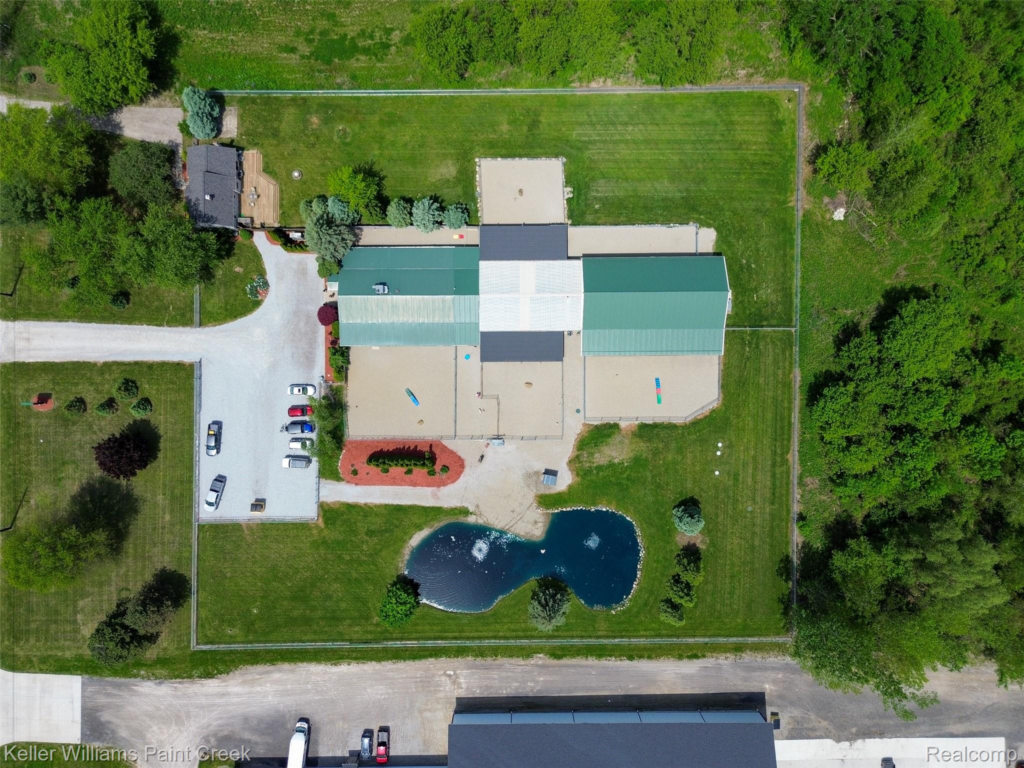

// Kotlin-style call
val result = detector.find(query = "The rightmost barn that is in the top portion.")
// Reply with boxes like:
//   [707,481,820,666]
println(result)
[580,257,730,356]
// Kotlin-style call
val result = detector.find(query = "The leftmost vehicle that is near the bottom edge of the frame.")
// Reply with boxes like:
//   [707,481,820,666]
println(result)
[287,716,311,768]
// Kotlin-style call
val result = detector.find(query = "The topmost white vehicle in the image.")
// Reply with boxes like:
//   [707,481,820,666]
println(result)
[288,383,318,397]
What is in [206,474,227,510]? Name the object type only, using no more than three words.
truck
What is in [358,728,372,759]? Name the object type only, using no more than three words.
car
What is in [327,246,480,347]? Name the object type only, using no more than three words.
building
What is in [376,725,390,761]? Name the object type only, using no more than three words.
vehicle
